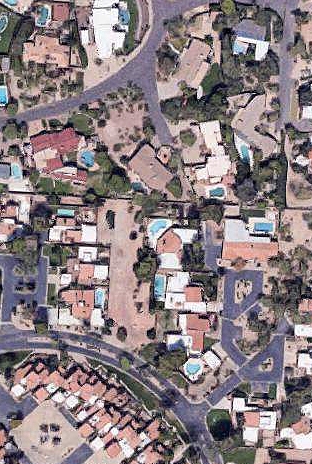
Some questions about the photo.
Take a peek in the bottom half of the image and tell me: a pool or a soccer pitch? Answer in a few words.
pool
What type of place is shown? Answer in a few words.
residential area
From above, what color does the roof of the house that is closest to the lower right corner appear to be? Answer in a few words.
white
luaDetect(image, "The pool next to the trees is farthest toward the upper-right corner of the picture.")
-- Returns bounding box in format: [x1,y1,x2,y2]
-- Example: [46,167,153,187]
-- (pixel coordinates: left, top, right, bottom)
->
[230,41,248,56]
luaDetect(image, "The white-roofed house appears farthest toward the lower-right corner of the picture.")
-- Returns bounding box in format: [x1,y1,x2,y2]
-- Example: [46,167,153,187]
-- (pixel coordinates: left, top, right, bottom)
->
[280,402,312,450]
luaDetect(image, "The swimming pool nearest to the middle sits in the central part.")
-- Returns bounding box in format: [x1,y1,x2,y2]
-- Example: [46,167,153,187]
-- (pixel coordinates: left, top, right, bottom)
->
[147,218,172,239]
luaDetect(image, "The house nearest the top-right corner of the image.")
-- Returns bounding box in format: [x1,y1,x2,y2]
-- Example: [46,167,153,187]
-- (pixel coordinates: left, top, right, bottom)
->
[231,18,268,60]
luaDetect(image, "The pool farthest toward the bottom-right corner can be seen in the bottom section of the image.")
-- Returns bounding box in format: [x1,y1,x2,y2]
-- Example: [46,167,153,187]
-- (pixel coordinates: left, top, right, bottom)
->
[182,358,204,379]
